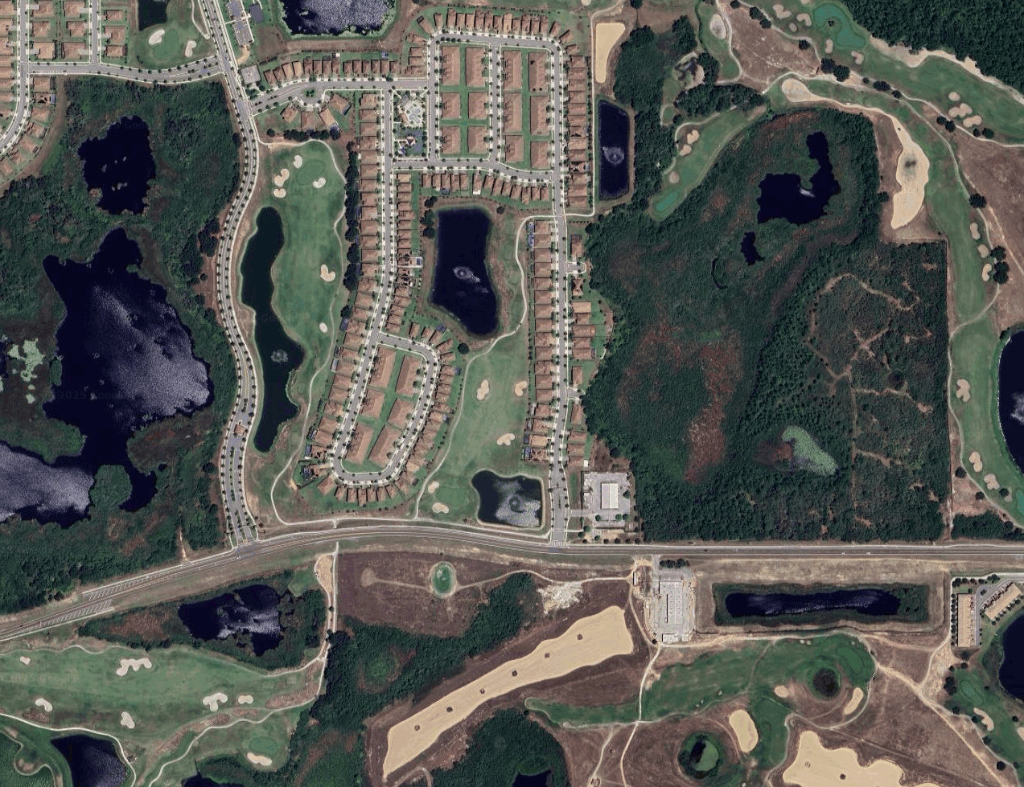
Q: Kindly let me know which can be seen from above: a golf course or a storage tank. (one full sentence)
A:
I can see a golf course in this picture.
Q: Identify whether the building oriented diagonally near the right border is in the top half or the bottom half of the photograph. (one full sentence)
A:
The bottom half of the photo is where the building oriented diagonally near the right border is.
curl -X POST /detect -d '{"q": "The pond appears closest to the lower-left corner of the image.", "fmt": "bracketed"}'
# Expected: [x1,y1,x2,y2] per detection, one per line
[50,735,127,787]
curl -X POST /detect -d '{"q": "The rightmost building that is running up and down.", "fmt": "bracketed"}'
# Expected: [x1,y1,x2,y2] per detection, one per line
[958,594,971,648]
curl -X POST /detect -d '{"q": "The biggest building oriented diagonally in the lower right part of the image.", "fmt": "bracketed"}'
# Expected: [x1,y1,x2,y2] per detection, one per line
[985,584,1022,621]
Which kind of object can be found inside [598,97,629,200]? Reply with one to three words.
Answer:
pond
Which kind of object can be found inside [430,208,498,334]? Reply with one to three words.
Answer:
pond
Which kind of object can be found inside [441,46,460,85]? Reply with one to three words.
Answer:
building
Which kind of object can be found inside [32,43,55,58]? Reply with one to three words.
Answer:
house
